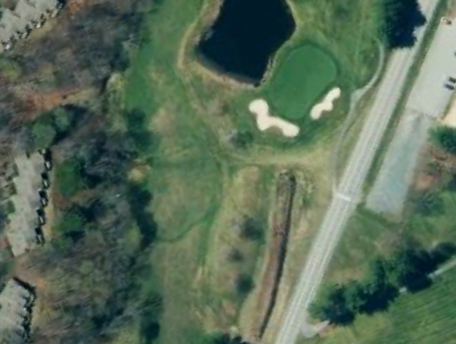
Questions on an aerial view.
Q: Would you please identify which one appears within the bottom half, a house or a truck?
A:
house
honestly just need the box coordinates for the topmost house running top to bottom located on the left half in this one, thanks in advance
[6,153,50,256]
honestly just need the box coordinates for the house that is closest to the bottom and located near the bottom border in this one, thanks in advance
[0,279,34,344]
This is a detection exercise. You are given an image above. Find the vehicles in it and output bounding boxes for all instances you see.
[444,83,454,90]
[448,75,456,83]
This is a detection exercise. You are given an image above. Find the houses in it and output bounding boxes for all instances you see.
[0,0,61,54]
[0,279,34,344]
[6,153,50,256]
